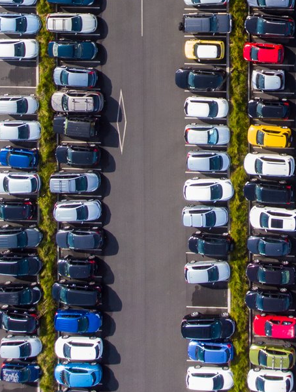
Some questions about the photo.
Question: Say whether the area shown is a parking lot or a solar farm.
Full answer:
This looks like a parking lot.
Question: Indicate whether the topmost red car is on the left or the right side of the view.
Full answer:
The topmost red car is on the right side of the image.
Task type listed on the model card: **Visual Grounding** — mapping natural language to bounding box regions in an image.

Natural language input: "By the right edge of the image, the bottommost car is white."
[248,365,293,392]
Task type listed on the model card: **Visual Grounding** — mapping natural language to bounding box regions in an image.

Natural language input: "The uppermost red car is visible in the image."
[244,42,284,65]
